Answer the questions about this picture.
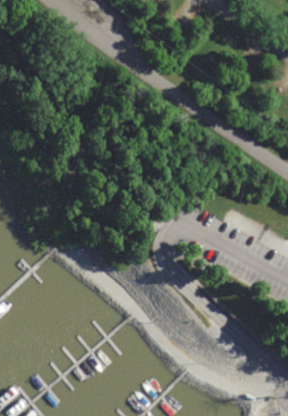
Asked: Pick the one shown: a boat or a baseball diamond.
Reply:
boat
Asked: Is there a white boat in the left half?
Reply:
Yes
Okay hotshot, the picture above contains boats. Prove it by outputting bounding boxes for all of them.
[74,365,88,380]
[129,397,144,413]
[0,300,11,316]
[0,384,21,410]
[2,394,32,416]
[150,377,162,392]
[135,391,152,408]
[142,382,158,399]
[96,350,112,366]
[143,407,153,416]
[79,358,96,378]
[158,399,175,416]
[32,374,46,392]
[86,353,102,372]
[42,390,58,408]
[24,406,41,416]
